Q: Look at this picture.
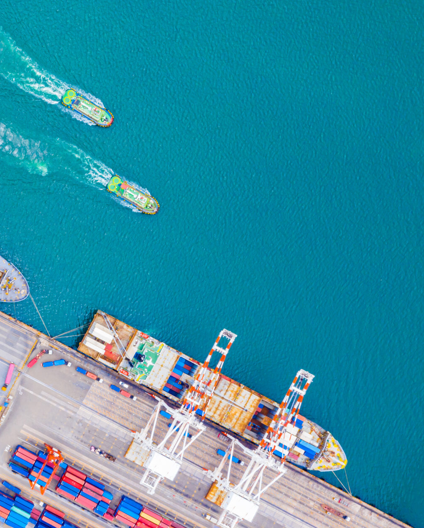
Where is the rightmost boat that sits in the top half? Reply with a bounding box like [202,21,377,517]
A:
[105,177,160,215]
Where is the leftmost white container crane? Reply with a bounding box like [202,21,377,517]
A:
[117,327,237,491]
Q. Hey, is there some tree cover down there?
No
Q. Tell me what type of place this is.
port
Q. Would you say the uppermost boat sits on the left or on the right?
left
